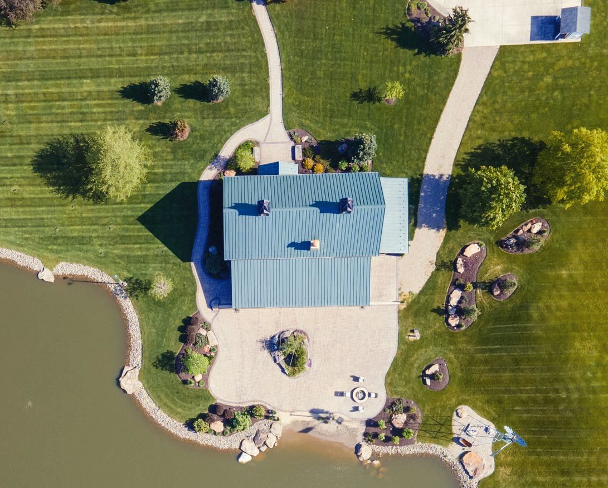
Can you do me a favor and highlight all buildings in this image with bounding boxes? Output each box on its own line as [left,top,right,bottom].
[223,161,408,310]
[557,3,592,40]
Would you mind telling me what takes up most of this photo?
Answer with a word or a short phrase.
grass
